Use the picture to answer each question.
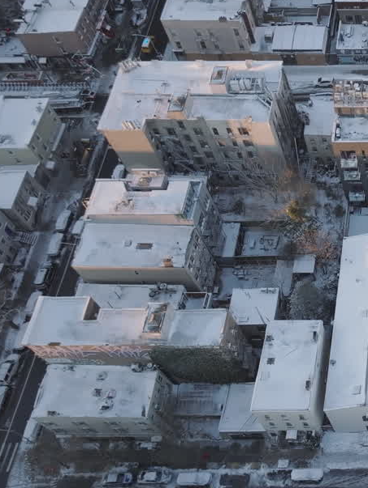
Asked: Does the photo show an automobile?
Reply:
Yes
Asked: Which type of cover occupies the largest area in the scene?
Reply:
buildings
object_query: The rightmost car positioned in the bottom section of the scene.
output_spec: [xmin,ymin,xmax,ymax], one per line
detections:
[287,467,327,484]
